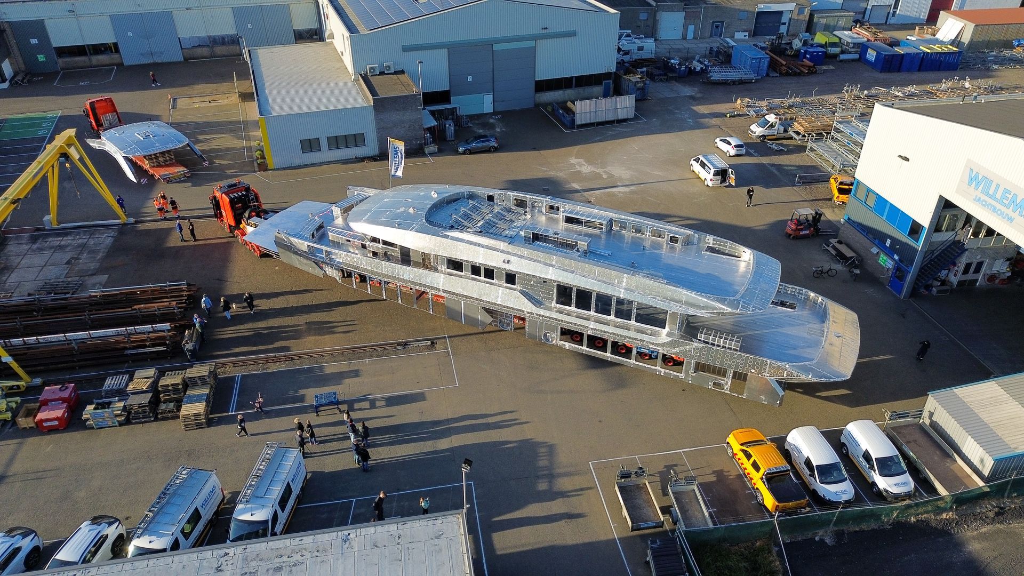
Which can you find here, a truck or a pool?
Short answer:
truck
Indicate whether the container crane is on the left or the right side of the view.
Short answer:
left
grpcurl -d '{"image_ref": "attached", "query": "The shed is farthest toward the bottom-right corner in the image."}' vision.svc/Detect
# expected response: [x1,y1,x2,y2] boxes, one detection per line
[925,367,1024,477]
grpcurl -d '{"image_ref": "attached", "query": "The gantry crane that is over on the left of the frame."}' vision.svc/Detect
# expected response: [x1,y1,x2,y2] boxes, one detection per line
[0,122,138,224]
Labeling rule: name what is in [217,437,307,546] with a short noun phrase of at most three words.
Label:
van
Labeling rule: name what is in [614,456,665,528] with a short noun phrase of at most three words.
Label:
trailer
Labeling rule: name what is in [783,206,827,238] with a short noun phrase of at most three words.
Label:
work vehicle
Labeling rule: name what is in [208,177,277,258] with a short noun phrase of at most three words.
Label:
truck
